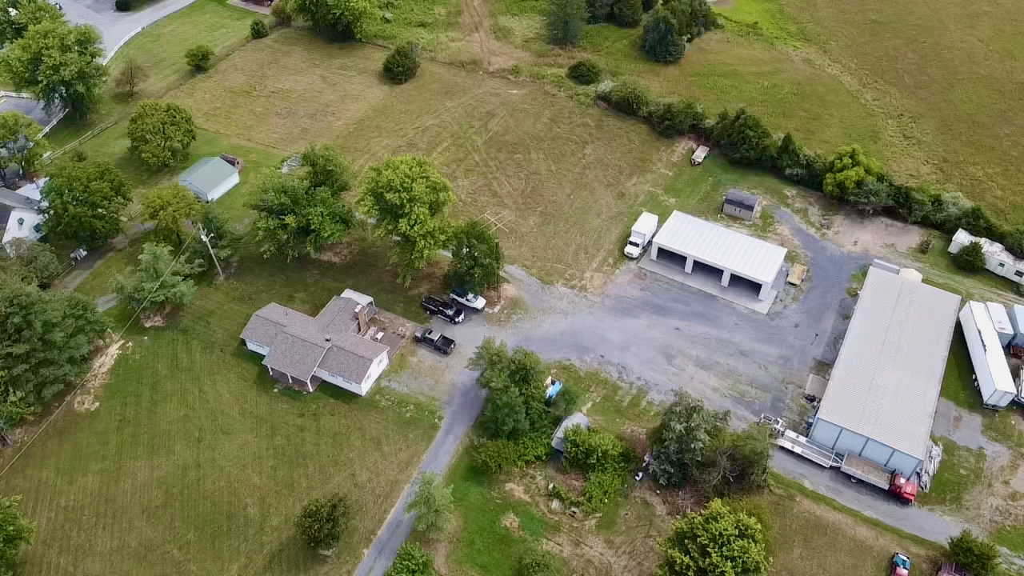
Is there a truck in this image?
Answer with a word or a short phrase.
Yes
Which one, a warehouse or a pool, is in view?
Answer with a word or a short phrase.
warehouse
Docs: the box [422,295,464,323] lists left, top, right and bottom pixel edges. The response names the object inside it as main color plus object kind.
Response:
black truck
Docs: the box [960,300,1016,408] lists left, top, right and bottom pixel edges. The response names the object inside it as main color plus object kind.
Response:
white trailer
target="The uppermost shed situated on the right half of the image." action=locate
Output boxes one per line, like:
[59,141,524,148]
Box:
[724,189,759,220]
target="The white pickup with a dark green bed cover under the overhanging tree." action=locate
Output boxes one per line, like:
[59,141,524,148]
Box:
[446,283,486,310]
